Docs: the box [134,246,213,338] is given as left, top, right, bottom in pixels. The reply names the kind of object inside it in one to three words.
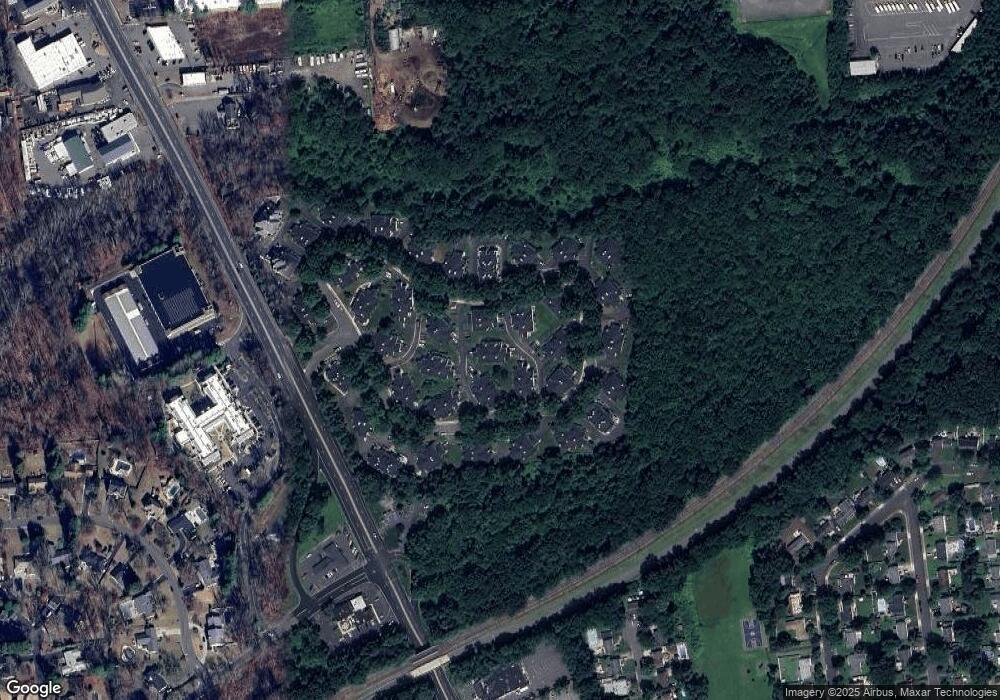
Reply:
building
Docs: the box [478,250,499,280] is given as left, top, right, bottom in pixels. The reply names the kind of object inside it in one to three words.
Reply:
building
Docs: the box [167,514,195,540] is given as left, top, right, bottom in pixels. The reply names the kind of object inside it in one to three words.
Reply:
house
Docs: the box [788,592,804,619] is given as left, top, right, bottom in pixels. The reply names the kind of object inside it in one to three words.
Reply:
house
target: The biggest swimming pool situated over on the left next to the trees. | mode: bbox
[109,455,135,476]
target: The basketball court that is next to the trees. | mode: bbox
[740,615,764,651]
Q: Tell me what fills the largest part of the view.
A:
trees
